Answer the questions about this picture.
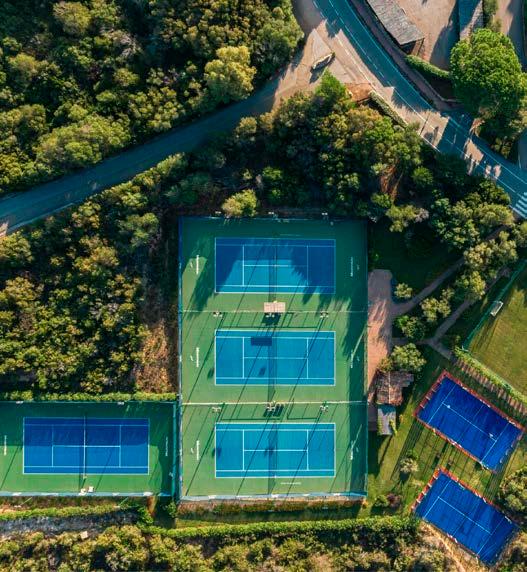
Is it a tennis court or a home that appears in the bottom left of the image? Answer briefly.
tennis court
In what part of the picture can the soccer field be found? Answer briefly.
right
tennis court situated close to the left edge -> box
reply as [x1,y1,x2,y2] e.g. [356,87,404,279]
[0,406,177,488]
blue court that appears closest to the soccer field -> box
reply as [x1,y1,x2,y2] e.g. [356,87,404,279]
[416,374,527,475]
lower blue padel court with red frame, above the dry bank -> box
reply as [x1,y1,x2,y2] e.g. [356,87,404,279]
[412,469,526,572]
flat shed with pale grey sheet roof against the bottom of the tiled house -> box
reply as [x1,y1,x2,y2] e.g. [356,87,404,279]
[377,404,396,434]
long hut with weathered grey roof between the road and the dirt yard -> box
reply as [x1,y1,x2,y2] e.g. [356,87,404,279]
[363,0,426,55]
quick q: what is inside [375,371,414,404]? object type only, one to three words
house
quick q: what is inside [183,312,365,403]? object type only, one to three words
tennis court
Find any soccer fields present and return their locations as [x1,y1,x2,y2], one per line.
[466,260,527,394]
